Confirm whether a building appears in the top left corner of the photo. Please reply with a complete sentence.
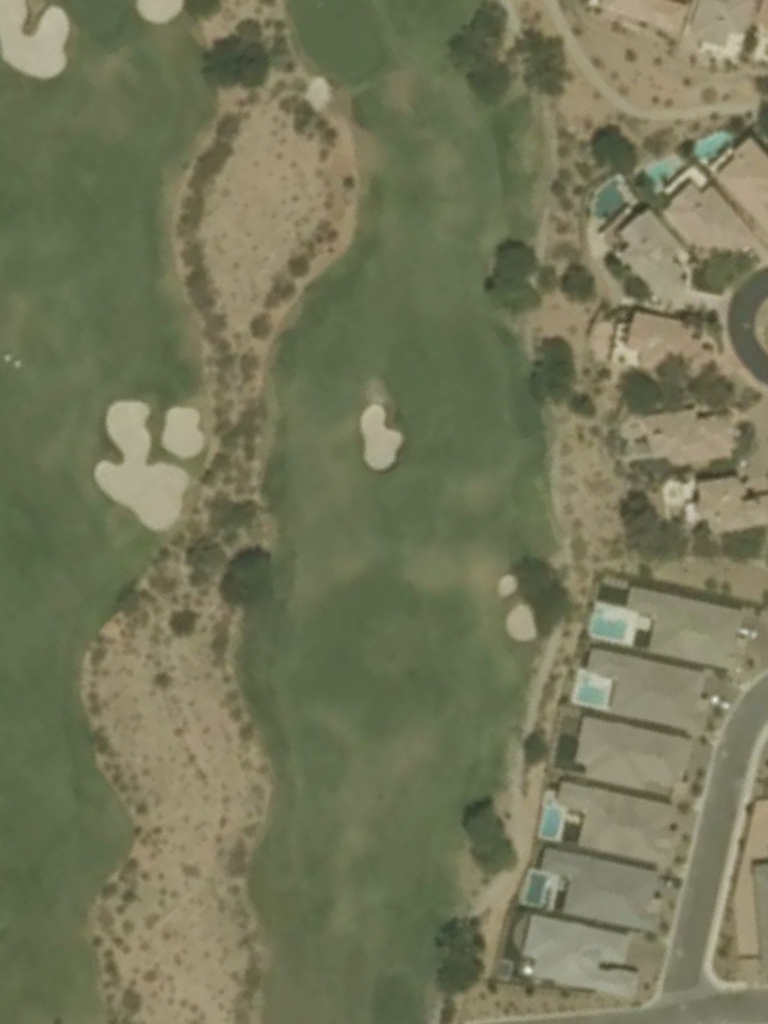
No, no building can be made out in the top left corner of the photo.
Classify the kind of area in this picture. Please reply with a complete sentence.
The picture captures a golf course.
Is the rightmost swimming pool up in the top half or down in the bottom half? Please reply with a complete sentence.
The top half of the photo is where the rightmost swimming pool is.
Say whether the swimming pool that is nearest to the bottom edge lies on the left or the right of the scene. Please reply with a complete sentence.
The swimming pool that is nearest to the bottom edge sits on the right side.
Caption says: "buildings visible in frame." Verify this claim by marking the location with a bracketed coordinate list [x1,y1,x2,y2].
[690,0,758,50]
[687,478,768,535]
[620,212,694,303]
[628,311,711,381]
[589,649,703,733]
[539,850,657,929]
[574,718,692,795]
[666,168,754,260]
[522,917,636,1000]
[557,783,677,863]
[716,135,768,224]
[589,0,673,32]
[627,587,743,665]
[631,412,740,464]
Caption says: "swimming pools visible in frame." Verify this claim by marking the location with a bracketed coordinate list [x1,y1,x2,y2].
[588,600,651,648]
[645,154,685,191]
[539,791,580,843]
[518,868,564,912]
[590,175,639,224]
[693,127,736,165]
[572,668,612,710]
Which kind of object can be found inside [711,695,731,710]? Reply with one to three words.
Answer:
car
